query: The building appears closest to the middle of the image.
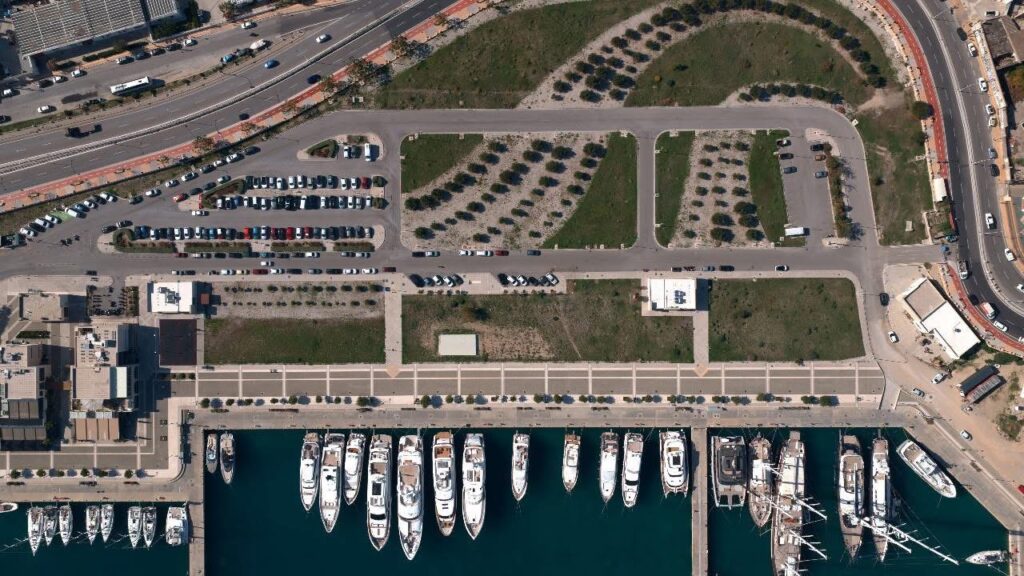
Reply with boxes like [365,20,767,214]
[647,279,696,310]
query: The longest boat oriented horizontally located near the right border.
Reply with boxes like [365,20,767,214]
[965,549,1019,574]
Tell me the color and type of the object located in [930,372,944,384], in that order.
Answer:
white vehicle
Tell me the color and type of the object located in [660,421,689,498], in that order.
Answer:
white boat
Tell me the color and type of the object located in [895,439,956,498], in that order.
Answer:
white boat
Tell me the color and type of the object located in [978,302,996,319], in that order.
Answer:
white vehicle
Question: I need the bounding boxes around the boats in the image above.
[0,500,44,556]
[660,421,689,498]
[79,498,115,542]
[895,439,956,498]
[20,499,58,546]
[64,500,101,544]
[396,424,425,561]
[206,433,218,473]
[749,429,788,527]
[0,503,18,513]
[597,421,619,503]
[837,425,910,559]
[149,497,189,546]
[711,426,755,507]
[965,549,1019,574]
[562,423,581,492]
[220,422,236,484]
[432,421,457,537]
[343,422,366,505]
[367,424,395,552]
[125,500,157,550]
[770,431,827,576]
[320,423,346,533]
[109,500,143,548]
[871,428,958,563]
[36,500,74,546]
[510,424,530,501]
[620,422,643,508]
[462,432,487,540]
[299,422,321,511]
